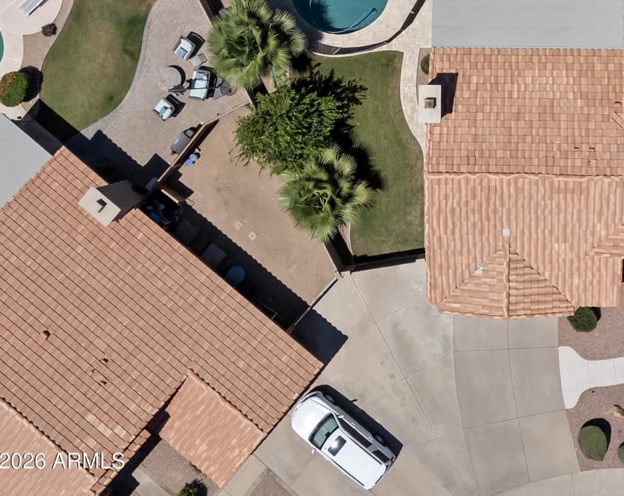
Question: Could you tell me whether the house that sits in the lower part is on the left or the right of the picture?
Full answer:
The house that sits in the lower part is on the left side of the image.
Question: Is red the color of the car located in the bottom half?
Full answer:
No, the car located in the bottom half is white.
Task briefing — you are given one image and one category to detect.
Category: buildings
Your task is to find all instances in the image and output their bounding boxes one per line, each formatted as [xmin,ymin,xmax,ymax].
[0,106,323,496]
[419,0,624,318]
